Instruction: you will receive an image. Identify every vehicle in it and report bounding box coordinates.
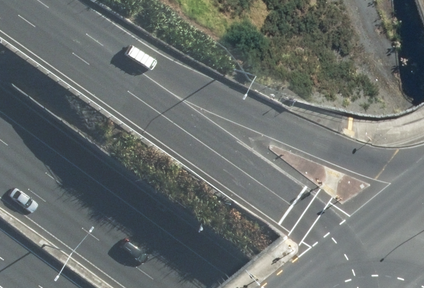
[124,44,157,70]
[8,187,38,212]
[120,237,149,262]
